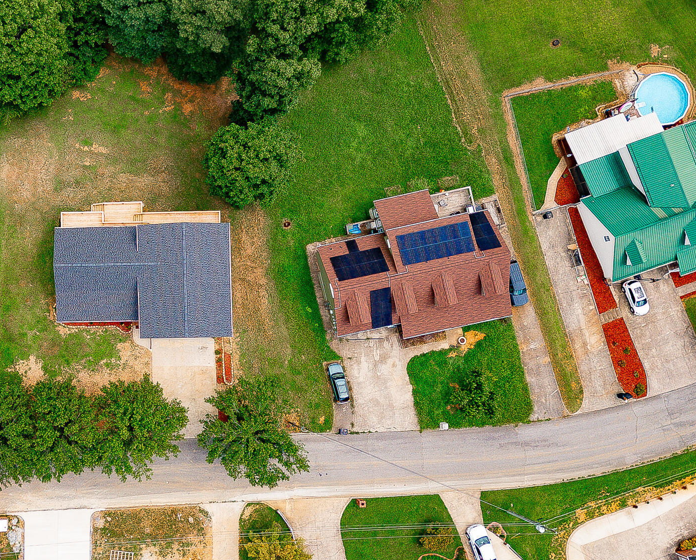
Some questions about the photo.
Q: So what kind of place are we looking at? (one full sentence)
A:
The area seen from above is a residential area.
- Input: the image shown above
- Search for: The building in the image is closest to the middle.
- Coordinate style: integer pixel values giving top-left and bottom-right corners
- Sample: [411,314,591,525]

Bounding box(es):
[315,188,513,338]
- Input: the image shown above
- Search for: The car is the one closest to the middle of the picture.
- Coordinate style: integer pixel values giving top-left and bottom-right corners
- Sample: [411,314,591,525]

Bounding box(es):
[327,361,352,406]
